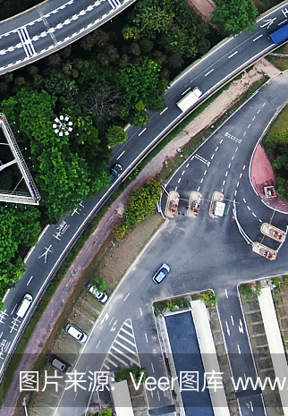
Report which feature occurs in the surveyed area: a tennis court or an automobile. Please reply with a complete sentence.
Looking from above, you can make out an automobile.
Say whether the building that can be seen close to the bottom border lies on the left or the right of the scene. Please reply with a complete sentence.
You can find the building that can be seen close to the bottom border on the right side of the picture.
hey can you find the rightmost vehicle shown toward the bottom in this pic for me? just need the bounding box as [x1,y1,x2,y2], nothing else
[154,263,168,282]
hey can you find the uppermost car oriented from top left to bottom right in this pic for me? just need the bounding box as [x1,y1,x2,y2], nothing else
[88,283,107,301]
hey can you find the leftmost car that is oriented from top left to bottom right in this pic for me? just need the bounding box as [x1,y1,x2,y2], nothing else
[49,353,70,371]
